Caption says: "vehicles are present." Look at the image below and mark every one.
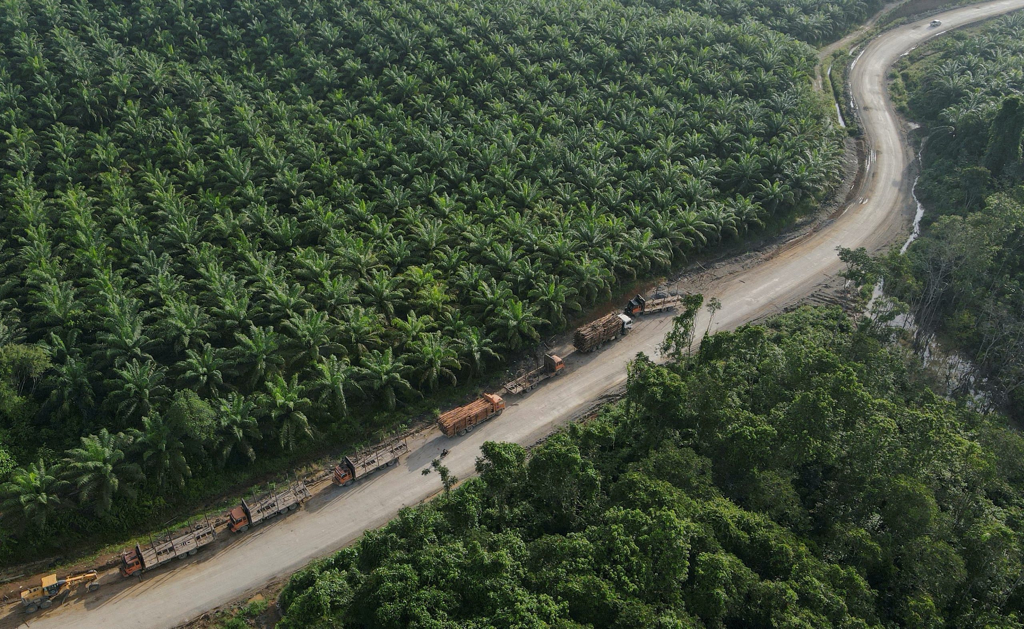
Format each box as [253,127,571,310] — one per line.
[623,284,686,317]
[329,431,408,488]
[223,473,310,535]
[574,313,632,352]
[117,517,211,578]
[929,20,943,28]
[439,390,508,438]
[505,351,569,395]
[16,570,99,616]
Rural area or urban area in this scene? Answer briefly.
rural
